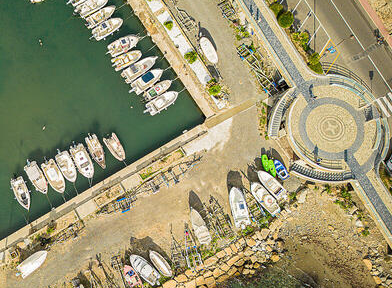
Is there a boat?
Yes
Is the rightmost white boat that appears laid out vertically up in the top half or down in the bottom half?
bottom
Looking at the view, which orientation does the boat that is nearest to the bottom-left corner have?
on a diagonal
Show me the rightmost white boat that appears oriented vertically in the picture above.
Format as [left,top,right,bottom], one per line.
[229,188,250,232]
